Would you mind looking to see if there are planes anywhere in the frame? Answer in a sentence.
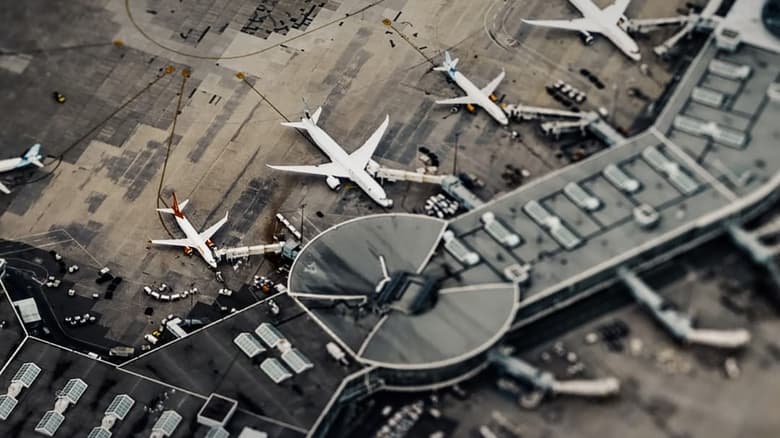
Yes, you can see a plane in this photo.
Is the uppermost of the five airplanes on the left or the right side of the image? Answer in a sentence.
It is on the right.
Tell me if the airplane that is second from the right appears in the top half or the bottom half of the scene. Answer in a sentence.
The airplane that is second from the right is in the top half of the image.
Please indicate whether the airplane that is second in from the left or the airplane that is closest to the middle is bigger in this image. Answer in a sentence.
The airplane that is second in from the left is smaller than the airplane that is closest to the middle.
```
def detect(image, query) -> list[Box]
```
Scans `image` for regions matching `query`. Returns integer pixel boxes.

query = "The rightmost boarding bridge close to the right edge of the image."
[723,226,780,271]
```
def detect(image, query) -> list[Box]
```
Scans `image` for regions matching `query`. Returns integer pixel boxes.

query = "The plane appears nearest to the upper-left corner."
[0,143,48,192]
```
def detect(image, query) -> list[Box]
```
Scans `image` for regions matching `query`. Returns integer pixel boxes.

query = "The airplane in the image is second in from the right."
[434,55,508,125]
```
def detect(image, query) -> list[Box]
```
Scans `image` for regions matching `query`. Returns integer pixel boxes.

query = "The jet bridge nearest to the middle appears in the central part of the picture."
[374,169,486,209]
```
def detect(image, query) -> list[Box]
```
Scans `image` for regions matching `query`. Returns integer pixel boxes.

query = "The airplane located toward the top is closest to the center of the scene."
[269,107,393,207]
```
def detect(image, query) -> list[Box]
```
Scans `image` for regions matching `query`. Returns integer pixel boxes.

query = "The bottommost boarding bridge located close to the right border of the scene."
[617,273,752,355]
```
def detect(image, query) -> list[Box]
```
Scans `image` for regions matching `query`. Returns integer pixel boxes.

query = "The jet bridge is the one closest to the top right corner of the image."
[622,14,719,60]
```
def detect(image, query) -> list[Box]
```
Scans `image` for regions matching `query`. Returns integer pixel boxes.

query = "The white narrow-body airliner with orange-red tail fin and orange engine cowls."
[150,199,228,267]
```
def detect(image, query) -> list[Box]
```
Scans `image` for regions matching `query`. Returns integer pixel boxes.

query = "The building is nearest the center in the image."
[286,210,519,393]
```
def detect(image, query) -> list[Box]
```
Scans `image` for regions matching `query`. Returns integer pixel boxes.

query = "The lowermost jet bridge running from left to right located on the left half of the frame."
[213,243,300,269]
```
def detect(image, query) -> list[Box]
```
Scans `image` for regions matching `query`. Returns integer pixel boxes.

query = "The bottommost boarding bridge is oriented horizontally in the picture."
[485,350,622,404]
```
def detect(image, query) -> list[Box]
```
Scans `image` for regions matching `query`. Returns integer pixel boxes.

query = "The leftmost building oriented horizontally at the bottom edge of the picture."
[0,275,385,438]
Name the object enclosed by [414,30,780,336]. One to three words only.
building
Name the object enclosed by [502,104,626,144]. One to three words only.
jet bridge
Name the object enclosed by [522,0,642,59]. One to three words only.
airplane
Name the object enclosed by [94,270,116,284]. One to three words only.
vehicle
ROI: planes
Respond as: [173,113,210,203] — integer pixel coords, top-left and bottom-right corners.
[434,55,508,125]
[522,0,642,59]
[150,199,228,267]
[0,143,48,192]
[269,107,393,207]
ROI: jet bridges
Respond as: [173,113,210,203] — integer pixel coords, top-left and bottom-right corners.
[617,273,752,355]
[723,226,780,271]
[213,243,300,269]
[485,350,622,404]
[502,104,626,144]
[374,169,486,209]
[622,14,719,60]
